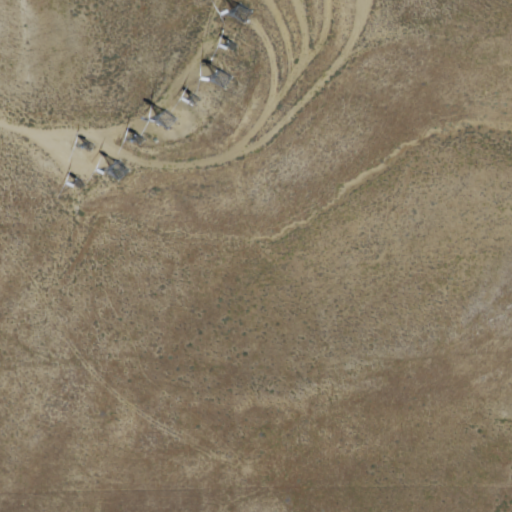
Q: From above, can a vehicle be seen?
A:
No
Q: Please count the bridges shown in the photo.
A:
0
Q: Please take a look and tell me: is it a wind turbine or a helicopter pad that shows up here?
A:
wind turbine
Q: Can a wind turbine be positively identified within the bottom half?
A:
No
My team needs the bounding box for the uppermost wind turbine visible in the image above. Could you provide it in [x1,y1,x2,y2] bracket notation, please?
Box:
[215,0,254,25]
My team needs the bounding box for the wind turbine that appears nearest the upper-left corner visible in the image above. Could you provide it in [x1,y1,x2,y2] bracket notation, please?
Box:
[69,135,95,158]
